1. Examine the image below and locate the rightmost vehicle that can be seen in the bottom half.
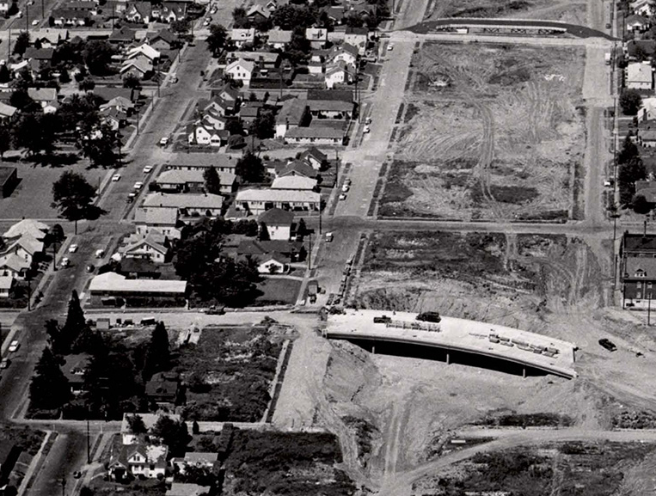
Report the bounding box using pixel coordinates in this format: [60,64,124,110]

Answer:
[595,339,621,353]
